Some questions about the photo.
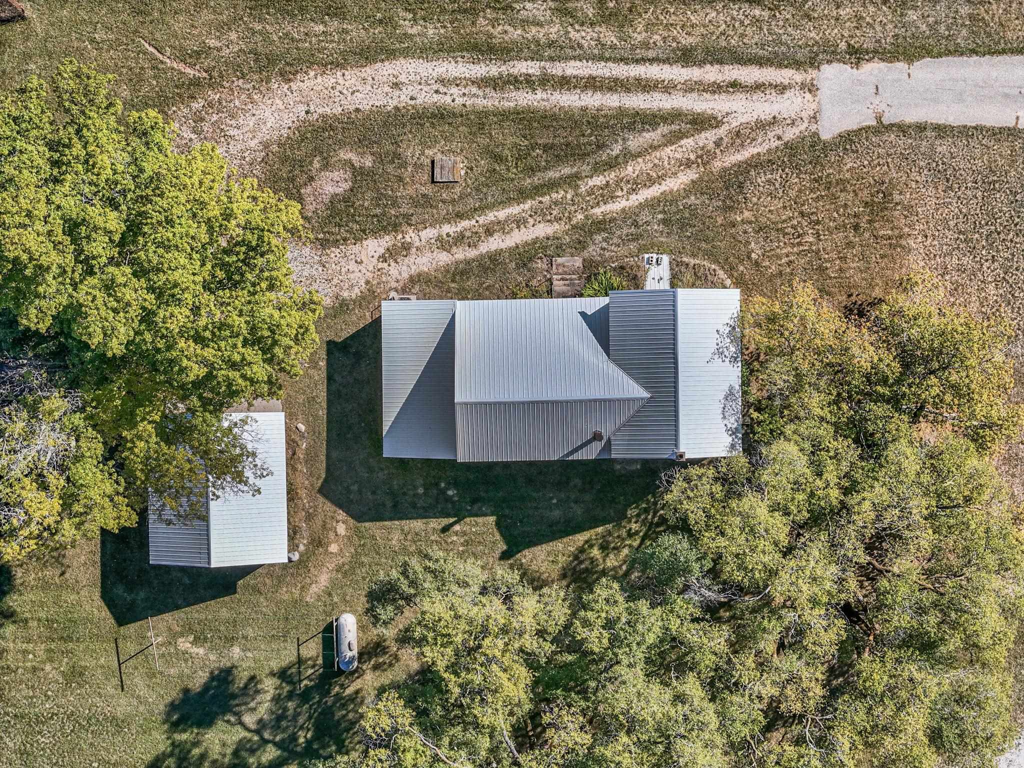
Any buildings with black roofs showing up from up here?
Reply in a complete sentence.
No, the picture doesn't show any building with a black roof.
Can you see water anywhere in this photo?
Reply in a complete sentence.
No, no water is visible.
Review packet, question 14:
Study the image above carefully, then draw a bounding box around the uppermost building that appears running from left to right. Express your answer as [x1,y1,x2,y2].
[381,286,742,461]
